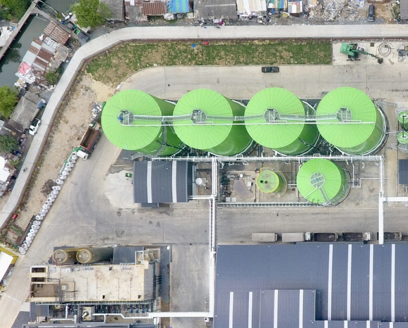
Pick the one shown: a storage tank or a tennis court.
storage tank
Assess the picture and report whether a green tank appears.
Yes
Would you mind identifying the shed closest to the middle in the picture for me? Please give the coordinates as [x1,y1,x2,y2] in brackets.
[131,160,194,208]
